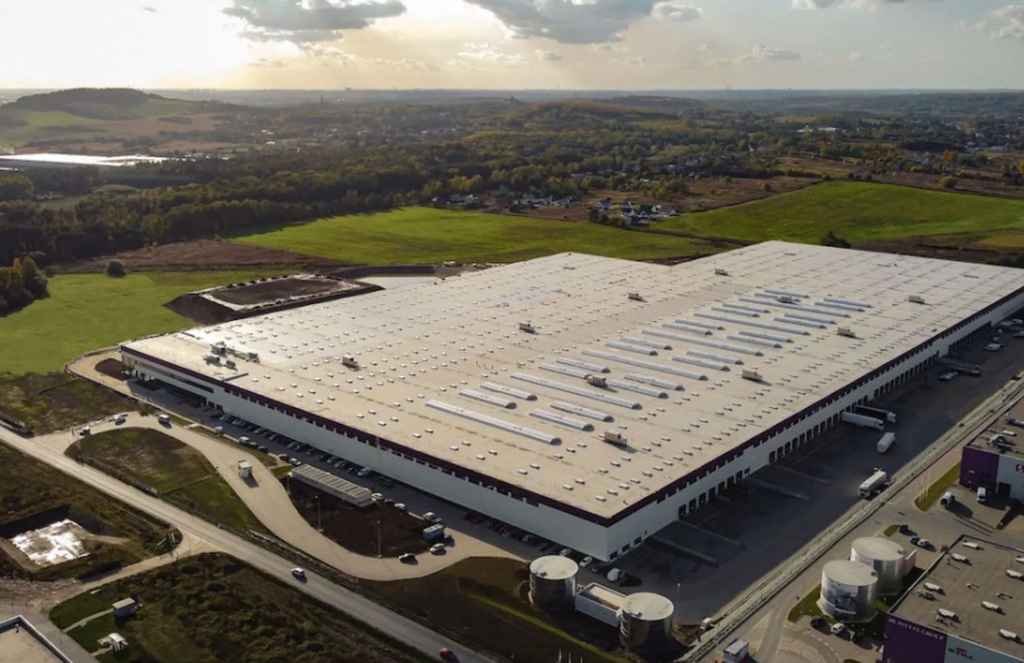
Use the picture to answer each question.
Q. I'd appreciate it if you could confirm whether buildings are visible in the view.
Yes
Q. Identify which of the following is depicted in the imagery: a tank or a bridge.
tank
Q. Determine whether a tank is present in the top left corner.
No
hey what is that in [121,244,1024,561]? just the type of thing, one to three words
warehouse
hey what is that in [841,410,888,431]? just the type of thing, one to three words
truck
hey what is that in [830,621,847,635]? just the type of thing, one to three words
car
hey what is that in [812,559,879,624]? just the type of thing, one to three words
storage tank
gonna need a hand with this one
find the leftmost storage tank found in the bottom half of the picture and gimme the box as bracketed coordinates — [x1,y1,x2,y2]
[526,556,578,611]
